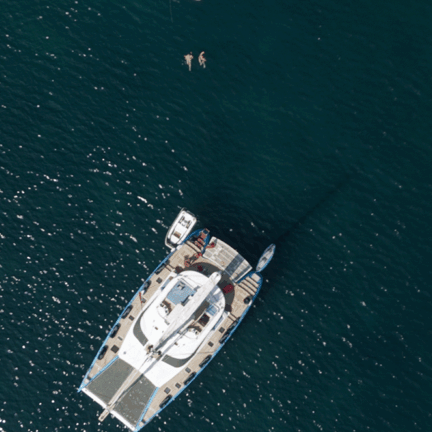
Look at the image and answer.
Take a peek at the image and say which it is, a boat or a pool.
boat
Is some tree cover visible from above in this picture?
No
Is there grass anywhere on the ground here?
No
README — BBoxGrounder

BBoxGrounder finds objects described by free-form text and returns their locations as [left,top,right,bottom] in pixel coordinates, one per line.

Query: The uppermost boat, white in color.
[163,208,197,251]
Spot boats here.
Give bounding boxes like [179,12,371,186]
[163,208,197,251]
[255,243,275,274]
[77,229,260,432]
